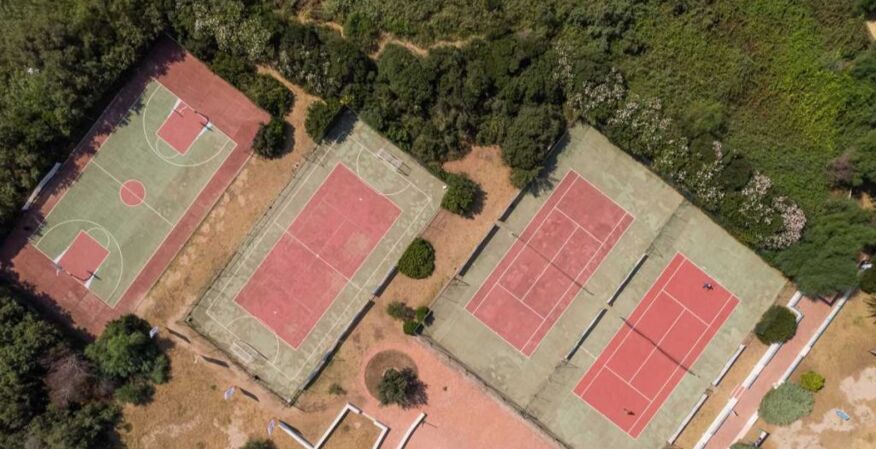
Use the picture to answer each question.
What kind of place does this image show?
sports ground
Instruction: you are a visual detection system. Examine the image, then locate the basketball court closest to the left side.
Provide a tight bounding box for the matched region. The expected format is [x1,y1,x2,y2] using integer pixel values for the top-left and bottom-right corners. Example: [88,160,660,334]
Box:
[0,34,274,347]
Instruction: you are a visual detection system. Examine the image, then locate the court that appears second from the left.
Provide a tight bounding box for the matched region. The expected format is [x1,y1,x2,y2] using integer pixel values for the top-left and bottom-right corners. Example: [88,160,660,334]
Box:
[186,112,443,403]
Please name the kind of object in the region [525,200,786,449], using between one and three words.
tennis court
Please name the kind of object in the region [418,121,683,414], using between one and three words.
tennis court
